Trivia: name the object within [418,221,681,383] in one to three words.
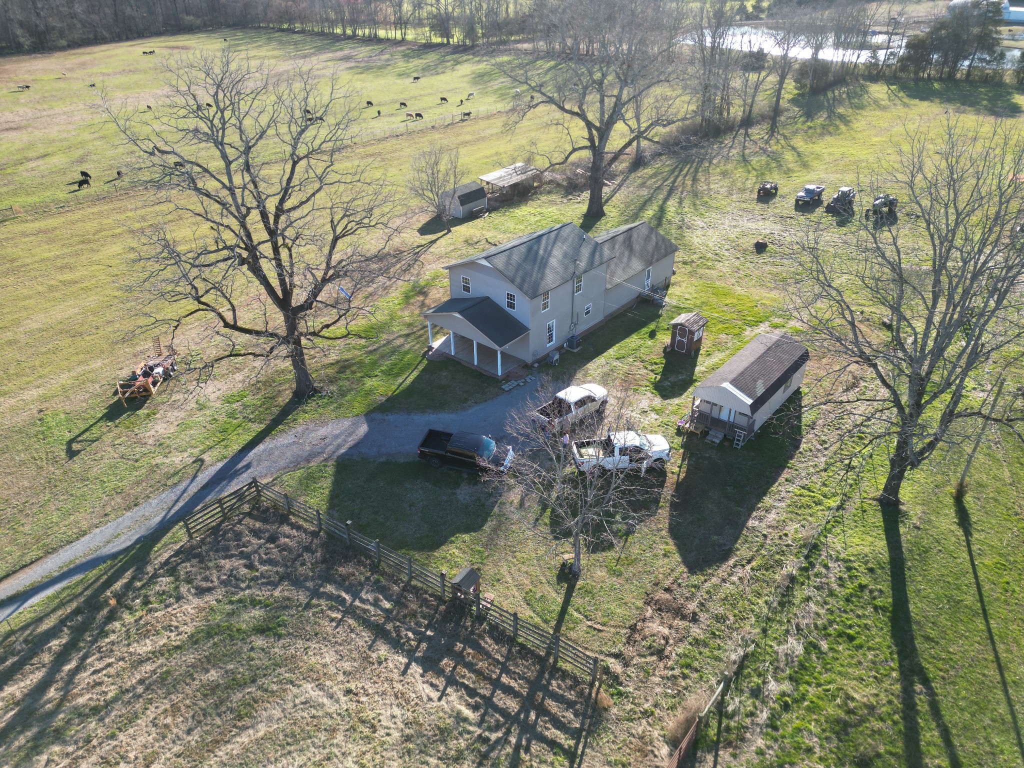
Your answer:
house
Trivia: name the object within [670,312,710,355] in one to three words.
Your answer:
shed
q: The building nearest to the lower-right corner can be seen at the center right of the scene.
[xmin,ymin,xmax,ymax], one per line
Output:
[688,333,810,446]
